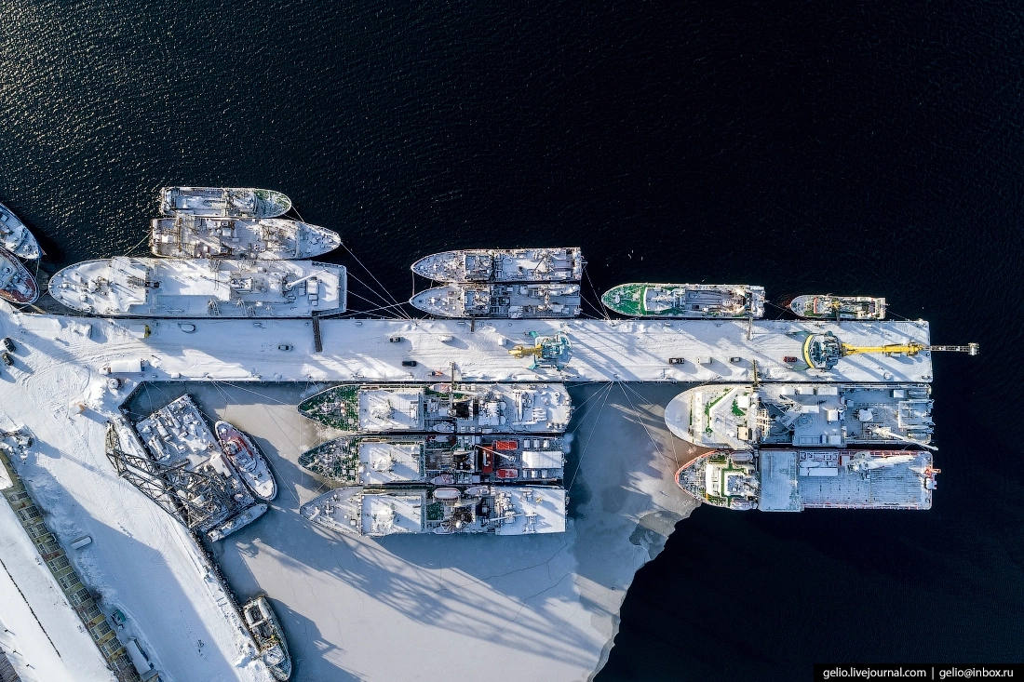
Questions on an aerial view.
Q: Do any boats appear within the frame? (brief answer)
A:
Yes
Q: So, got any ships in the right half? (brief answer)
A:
Yes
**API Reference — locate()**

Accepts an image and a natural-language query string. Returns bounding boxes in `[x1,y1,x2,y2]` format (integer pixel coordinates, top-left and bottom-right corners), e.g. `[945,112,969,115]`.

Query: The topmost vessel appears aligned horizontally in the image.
[160,186,292,220]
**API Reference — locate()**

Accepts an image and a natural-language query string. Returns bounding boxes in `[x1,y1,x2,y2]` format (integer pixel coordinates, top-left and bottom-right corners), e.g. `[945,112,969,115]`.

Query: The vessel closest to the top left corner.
[0,197,51,264]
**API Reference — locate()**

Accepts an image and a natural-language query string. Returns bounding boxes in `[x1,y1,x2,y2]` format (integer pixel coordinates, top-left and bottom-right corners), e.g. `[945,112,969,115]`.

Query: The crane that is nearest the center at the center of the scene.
[507,331,572,369]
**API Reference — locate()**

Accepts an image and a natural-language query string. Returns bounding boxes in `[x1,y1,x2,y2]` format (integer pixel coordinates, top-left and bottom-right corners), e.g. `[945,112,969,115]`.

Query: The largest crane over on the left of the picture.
[106,394,256,534]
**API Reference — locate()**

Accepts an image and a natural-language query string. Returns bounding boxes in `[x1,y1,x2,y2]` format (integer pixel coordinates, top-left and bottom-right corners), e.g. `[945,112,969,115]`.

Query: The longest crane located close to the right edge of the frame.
[788,330,978,373]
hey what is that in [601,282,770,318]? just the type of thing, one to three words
boat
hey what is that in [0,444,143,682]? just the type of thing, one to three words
warehouse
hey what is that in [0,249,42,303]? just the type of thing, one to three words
ship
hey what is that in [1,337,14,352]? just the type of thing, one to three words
vehicle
